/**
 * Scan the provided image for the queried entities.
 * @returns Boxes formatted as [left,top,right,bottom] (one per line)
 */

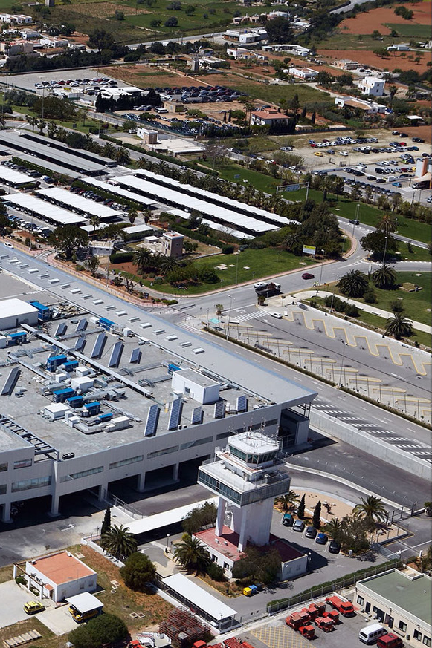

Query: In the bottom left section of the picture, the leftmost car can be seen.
[21,598,48,614]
